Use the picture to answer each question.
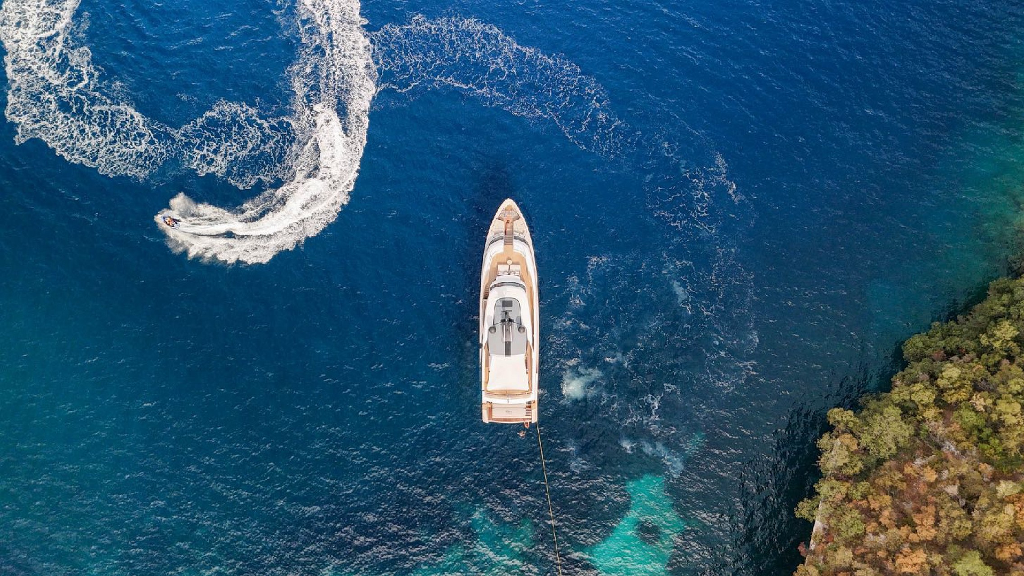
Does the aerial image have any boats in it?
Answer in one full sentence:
Yes, the picture does show a boat.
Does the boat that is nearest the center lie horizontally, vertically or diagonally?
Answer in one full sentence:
The boat that is nearest the center is oriented vertically.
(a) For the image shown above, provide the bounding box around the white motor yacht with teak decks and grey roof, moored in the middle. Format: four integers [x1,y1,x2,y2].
[480,198,539,429]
